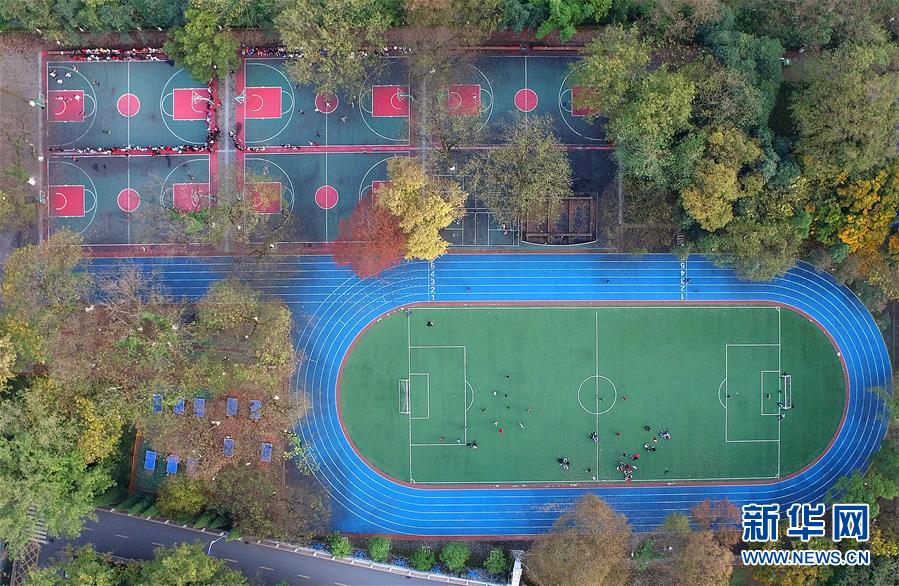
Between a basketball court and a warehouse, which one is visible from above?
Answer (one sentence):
There is a basketball court in the scene.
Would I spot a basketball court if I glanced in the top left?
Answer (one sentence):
Yes, a basketball court appears in the top left.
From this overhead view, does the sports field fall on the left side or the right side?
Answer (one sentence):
It is on the right.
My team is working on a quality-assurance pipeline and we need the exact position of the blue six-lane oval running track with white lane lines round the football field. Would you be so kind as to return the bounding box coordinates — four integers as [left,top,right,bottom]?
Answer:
[60,252,893,540]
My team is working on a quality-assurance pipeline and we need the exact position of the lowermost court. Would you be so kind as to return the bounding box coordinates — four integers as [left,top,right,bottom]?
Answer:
[432,212,520,246]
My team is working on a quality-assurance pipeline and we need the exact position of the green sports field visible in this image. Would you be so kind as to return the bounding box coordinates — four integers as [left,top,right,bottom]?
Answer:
[341,306,845,484]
